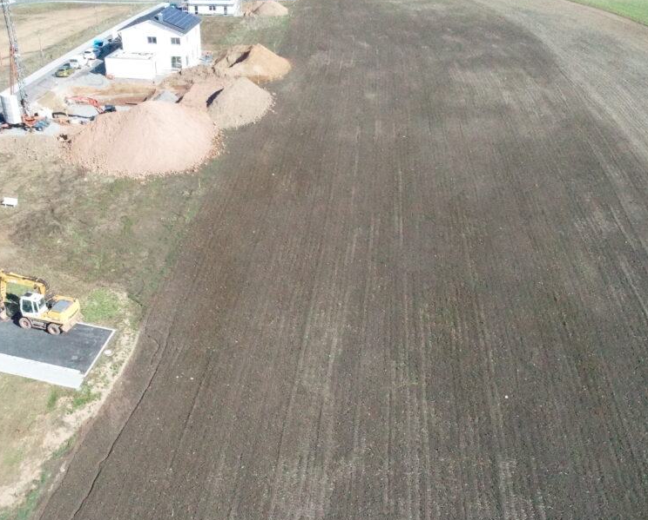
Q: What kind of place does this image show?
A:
farmland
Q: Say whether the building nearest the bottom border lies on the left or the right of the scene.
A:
left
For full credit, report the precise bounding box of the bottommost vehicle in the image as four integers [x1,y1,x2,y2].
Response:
[0,269,85,335]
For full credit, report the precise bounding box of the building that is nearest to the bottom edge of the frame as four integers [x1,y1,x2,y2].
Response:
[103,47,169,76]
